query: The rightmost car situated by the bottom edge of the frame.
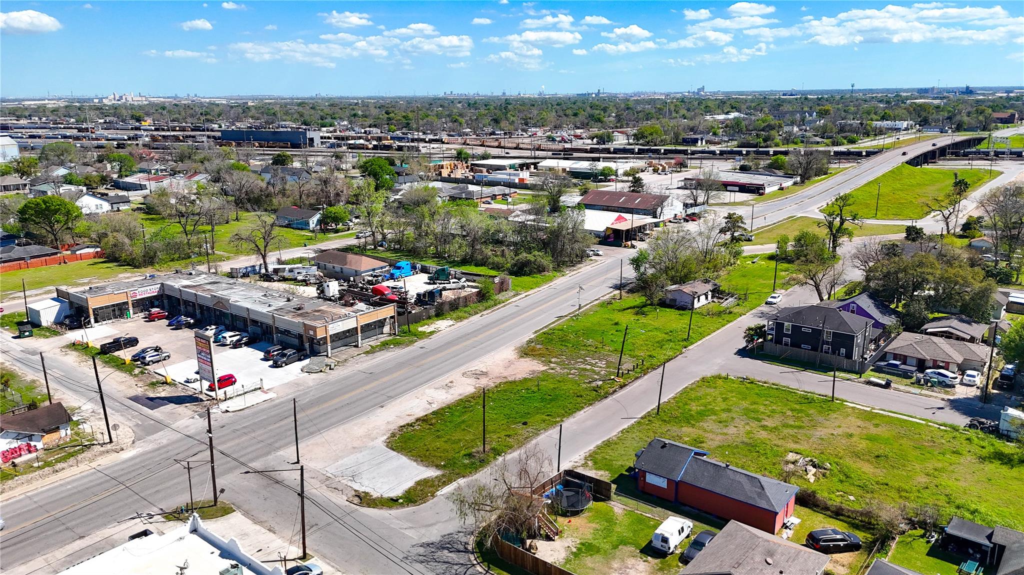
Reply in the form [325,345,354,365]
[803,521,870,553]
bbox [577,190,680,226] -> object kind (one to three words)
shed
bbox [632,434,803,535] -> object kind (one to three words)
house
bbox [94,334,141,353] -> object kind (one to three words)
vehicle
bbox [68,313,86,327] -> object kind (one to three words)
car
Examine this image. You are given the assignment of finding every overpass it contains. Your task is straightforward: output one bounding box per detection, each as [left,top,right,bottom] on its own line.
[854,133,1002,169]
